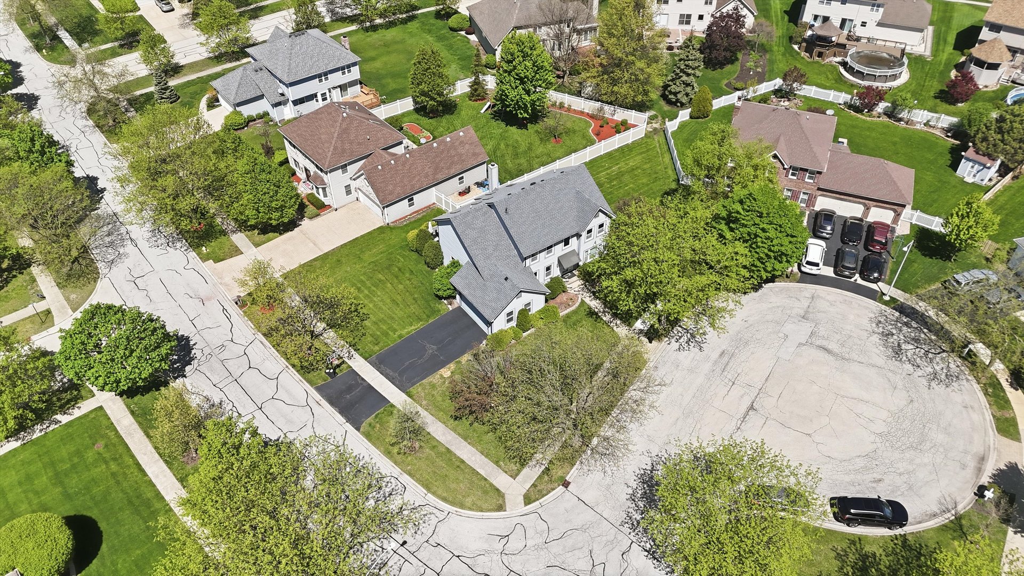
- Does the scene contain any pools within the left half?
No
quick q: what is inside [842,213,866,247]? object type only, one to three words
car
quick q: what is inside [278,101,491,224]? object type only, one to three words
house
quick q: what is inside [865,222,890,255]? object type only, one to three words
car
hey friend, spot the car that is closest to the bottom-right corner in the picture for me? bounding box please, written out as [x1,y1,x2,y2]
[829,495,907,532]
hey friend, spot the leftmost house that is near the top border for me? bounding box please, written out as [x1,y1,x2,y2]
[210,19,361,117]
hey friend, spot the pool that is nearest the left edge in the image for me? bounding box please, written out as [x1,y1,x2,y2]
[845,47,911,84]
